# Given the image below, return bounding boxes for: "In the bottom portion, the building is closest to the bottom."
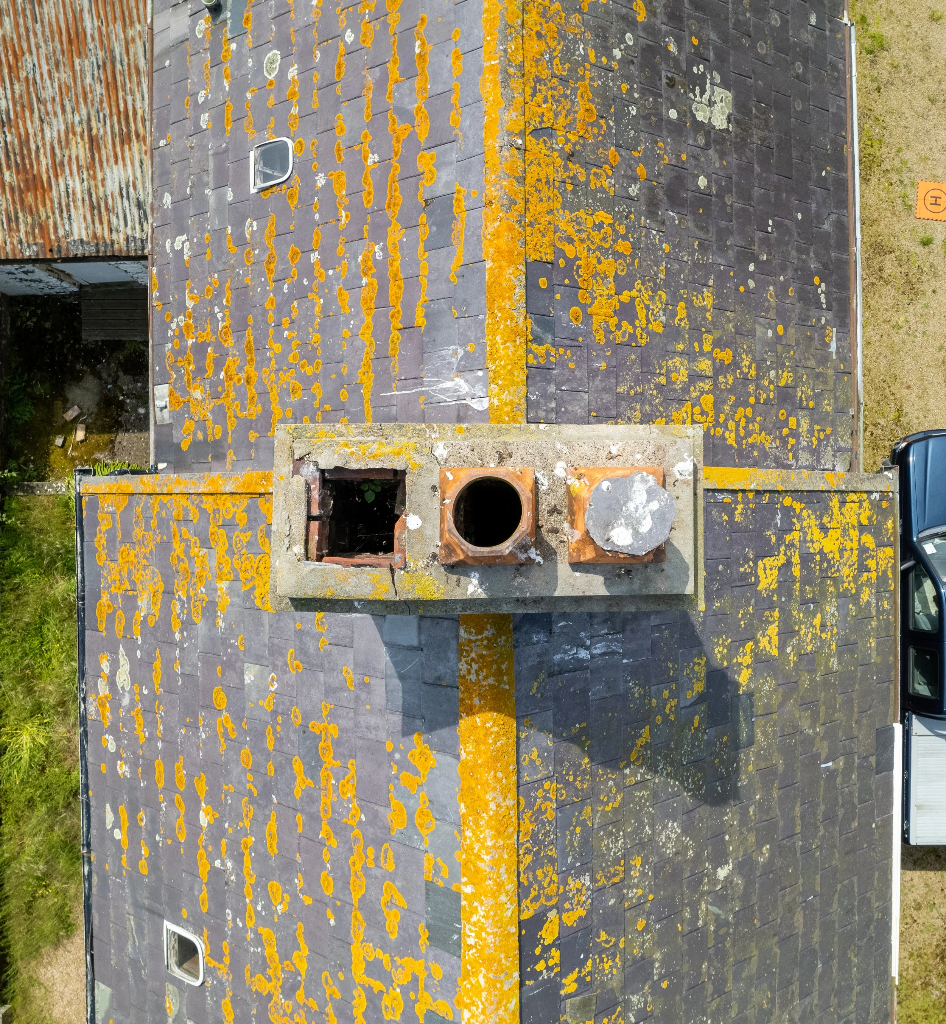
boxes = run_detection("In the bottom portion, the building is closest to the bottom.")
[75,465,902,1024]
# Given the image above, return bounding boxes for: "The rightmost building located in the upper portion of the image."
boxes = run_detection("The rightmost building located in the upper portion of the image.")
[106,0,868,477]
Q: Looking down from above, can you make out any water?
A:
No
